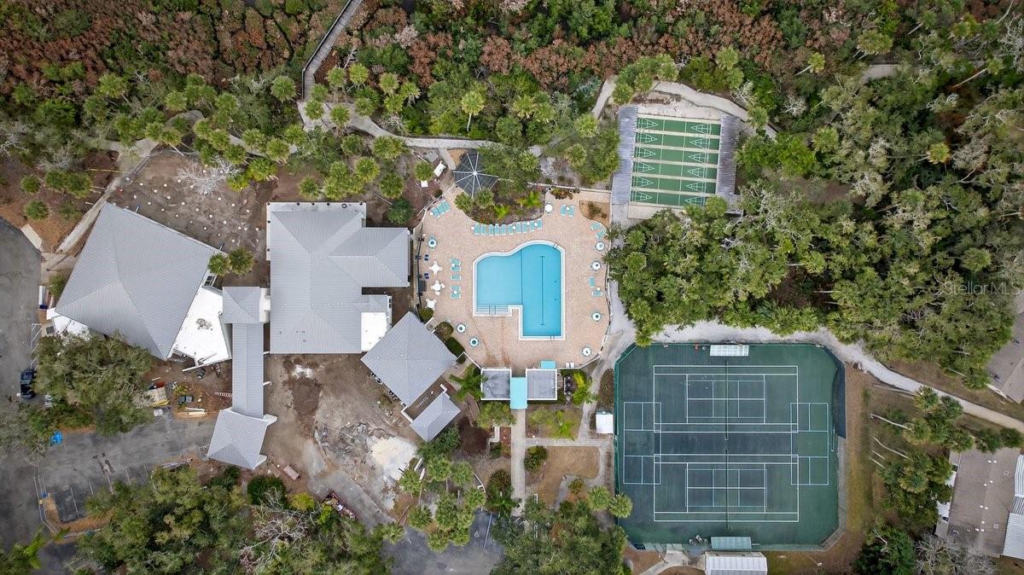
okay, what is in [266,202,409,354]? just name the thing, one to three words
building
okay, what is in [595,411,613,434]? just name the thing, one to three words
shed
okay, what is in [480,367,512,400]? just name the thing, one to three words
building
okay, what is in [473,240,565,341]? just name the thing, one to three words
swimming pool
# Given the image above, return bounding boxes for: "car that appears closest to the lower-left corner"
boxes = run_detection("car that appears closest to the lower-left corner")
[15,369,33,400]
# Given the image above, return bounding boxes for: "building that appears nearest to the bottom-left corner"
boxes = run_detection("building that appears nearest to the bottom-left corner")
[206,408,268,470]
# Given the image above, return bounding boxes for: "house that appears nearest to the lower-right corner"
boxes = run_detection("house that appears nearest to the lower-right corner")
[937,446,1021,557]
